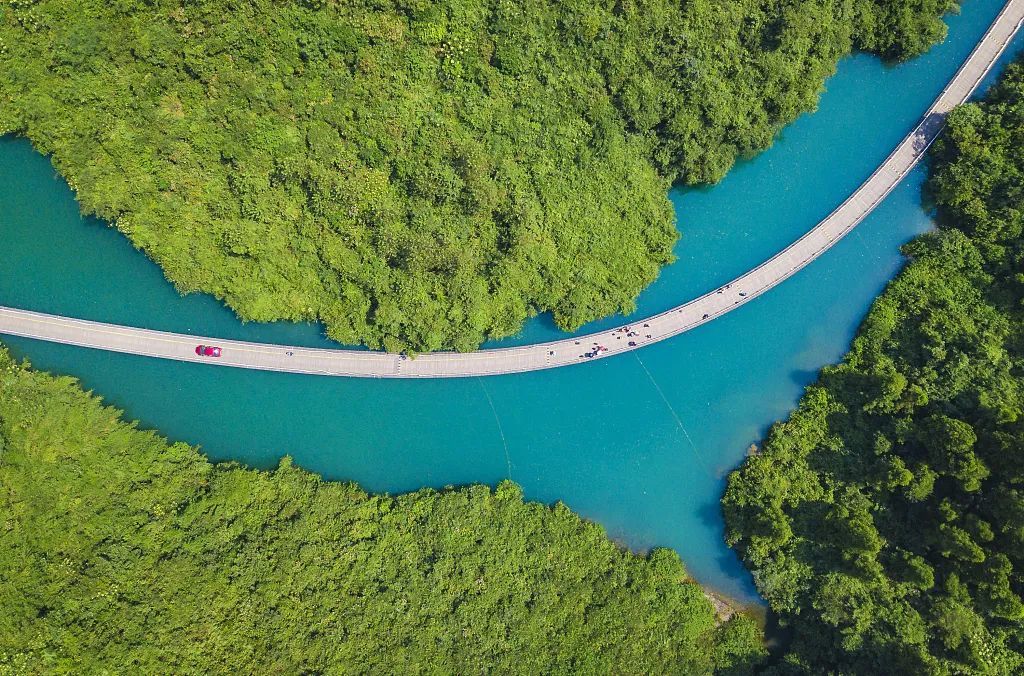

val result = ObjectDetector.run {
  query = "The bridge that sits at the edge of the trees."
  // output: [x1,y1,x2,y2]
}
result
[0,0,1024,378]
